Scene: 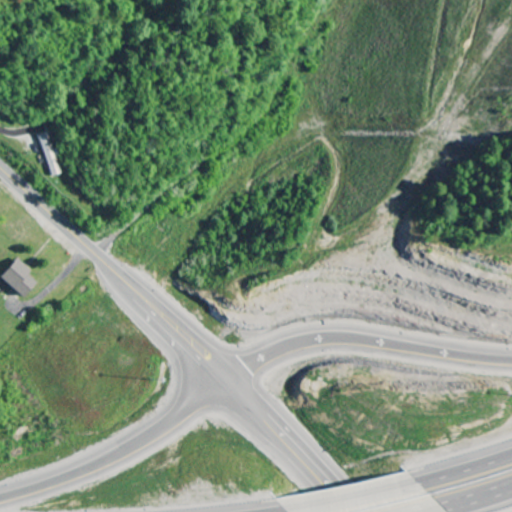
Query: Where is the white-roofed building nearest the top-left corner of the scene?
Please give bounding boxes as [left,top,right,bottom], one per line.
[36,134,62,176]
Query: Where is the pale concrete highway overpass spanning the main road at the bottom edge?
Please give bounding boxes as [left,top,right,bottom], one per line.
[270,466,442,512]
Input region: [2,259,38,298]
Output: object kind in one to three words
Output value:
house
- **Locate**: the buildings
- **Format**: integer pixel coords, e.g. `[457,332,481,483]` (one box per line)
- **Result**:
[36,134,62,176]
[2,259,38,298]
